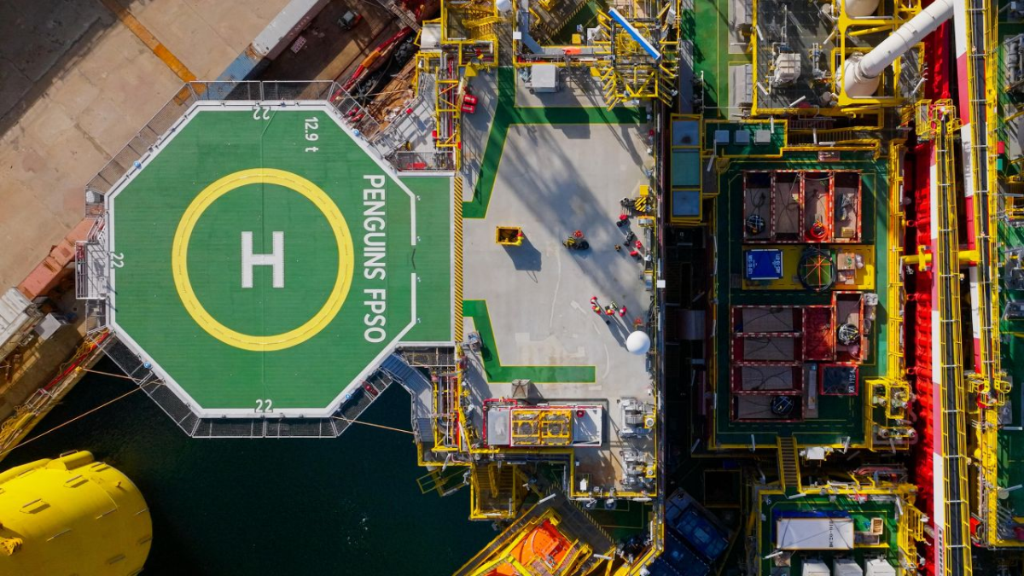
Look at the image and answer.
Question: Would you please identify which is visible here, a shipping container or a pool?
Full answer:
Visible in the photo is a shipping container.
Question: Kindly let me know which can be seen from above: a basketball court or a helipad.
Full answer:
Visible in the photo is a helipad.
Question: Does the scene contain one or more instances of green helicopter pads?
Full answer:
Yes, I can see a green helicopter pad in this picture.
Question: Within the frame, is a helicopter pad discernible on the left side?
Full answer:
Yes, a helicopter pad appears on the left side.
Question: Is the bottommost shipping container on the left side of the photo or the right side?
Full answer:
The bottommost shipping container sits on the right side.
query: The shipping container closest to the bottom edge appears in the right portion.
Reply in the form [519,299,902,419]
[768,511,855,551]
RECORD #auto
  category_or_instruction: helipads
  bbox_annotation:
[85,81,455,437]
